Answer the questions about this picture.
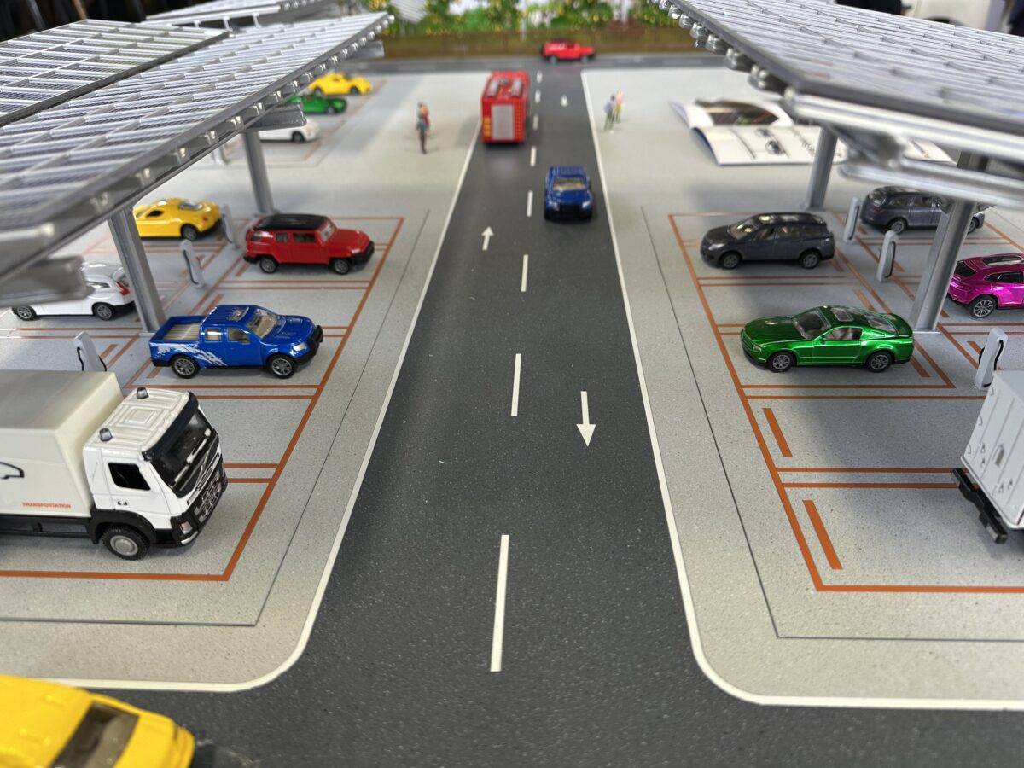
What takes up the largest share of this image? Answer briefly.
paved ground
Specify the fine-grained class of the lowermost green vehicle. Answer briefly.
car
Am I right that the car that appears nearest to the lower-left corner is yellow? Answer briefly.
Yes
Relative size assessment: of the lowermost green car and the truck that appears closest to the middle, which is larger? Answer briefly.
the car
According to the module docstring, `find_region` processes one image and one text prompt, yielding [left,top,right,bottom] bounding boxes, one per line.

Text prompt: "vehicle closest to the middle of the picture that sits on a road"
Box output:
[544,167,595,222]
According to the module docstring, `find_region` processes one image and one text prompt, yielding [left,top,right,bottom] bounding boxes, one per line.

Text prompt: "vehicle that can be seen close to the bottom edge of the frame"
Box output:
[0,686,192,768]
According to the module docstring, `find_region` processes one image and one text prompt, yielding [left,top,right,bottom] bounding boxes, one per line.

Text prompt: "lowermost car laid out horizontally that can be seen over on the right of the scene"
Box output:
[736,302,916,370]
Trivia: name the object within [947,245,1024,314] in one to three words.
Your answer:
car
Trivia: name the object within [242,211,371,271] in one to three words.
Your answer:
car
